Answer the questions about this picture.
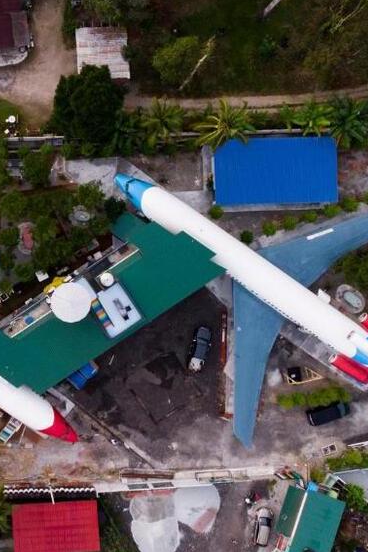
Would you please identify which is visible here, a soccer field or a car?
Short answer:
car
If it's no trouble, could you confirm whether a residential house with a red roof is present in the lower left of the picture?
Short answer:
Yes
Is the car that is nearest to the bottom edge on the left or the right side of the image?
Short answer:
right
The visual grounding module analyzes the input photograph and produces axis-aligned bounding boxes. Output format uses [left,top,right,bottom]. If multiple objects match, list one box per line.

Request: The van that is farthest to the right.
[303,400,349,428]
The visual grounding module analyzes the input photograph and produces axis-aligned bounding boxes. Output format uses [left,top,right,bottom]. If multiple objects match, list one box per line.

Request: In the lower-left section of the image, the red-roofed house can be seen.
[12,497,101,552]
